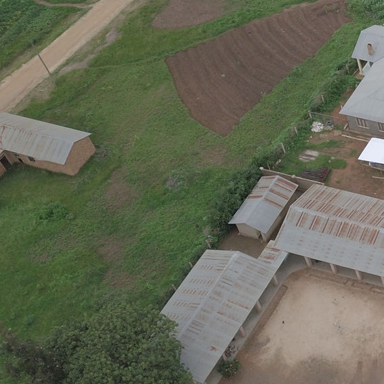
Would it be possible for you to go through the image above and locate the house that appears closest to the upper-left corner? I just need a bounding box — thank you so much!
[0,113,102,180]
